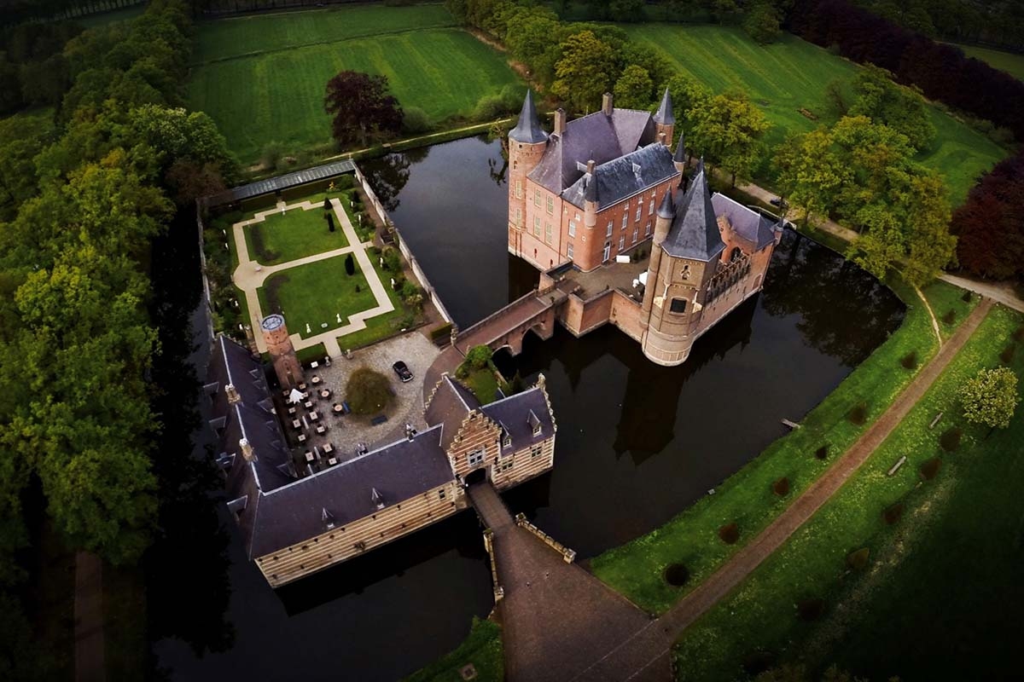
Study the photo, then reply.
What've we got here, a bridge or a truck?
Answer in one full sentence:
The one in the frame is a bridge.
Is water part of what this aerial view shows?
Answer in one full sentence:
Yes, water can be seen from above here.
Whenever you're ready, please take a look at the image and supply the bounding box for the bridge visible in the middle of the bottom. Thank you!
[467,481,520,546]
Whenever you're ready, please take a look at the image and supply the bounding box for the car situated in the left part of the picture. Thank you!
[393,362,412,383]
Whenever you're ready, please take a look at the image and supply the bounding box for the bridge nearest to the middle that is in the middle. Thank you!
[462,287,555,360]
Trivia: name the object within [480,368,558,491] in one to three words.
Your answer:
building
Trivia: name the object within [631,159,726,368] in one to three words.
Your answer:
building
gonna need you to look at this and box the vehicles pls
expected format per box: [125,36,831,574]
[393,362,412,383]
[768,198,789,209]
